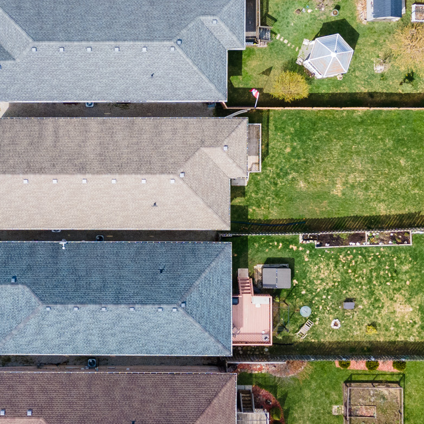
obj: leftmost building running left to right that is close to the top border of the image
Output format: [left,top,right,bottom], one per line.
[0,0,246,103]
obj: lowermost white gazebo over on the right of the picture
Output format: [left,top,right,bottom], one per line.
[303,33,354,78]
